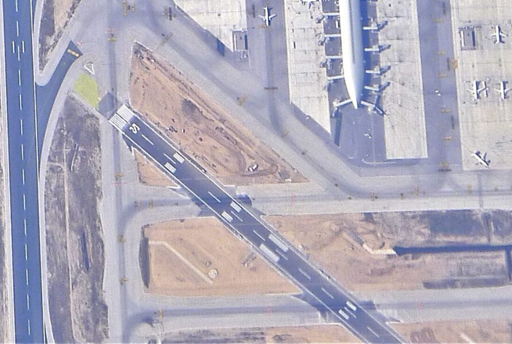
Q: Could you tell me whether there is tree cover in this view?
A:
No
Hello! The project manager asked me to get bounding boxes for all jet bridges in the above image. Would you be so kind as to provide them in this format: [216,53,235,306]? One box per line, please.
[317,12,340,21]
[334,99,352,115]
[363,45,387,52]
[319,35,342,44]
[363,100,385,115]
[361,21,385,29]
[364,65,389,73]
[325,76,346,86]
[321,55,343,63]
[363,82,388,91]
